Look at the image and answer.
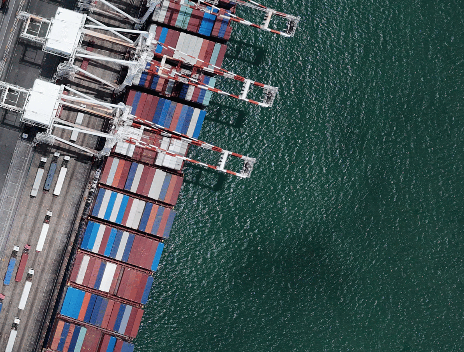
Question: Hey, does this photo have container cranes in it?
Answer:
Yes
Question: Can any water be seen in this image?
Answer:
Yes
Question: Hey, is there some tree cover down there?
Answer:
No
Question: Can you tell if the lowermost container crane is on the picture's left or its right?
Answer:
left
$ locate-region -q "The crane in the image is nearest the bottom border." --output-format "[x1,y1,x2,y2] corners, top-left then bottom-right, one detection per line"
[0,69,261,181]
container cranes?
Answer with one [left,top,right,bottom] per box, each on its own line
[0,69,261,181]
[15,0,283,111]
[82,0,304,41]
